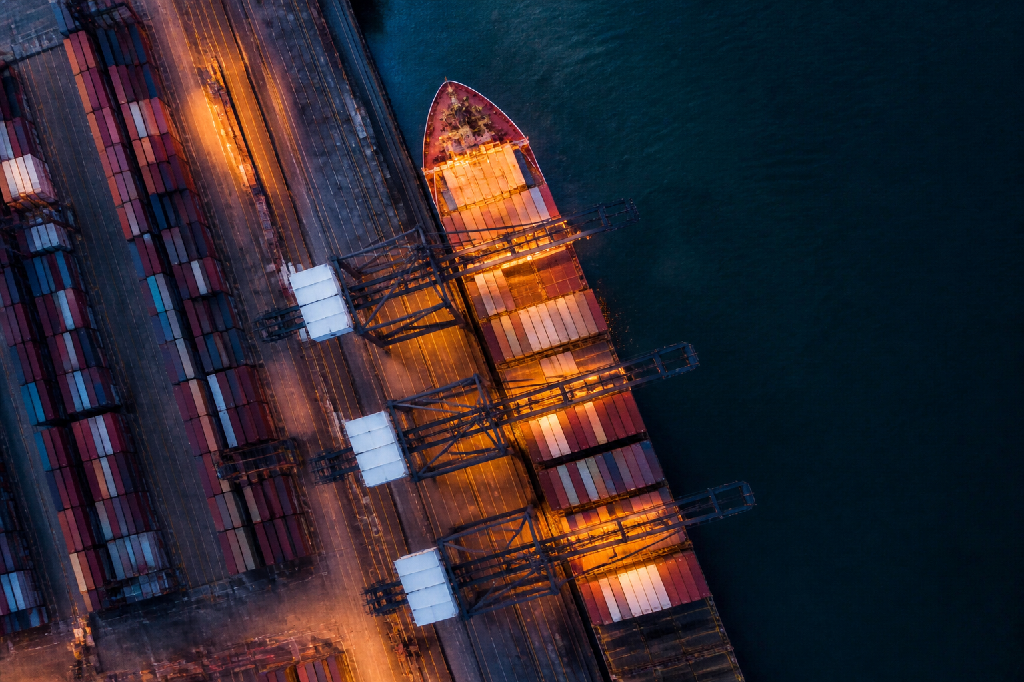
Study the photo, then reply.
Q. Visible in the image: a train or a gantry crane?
gantry crane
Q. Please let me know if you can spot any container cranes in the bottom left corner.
Yes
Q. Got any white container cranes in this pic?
No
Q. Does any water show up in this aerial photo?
Yes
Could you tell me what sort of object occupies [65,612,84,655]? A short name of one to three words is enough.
vehicle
